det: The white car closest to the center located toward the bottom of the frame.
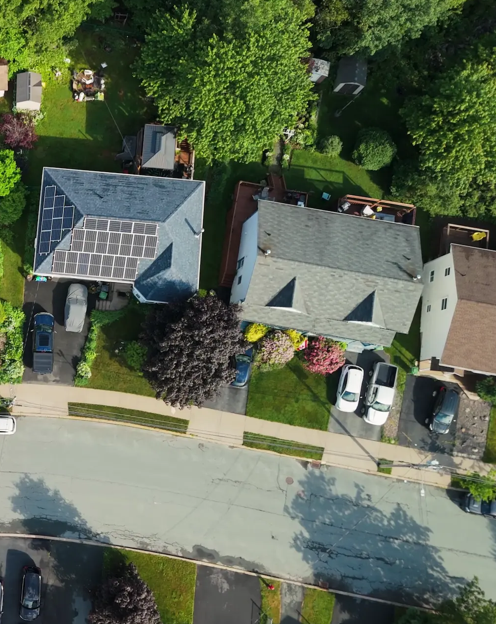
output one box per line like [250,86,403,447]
[335,364,362,413]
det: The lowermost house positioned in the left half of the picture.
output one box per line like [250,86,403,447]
[32,167,206,308]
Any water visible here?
No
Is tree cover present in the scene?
Yes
